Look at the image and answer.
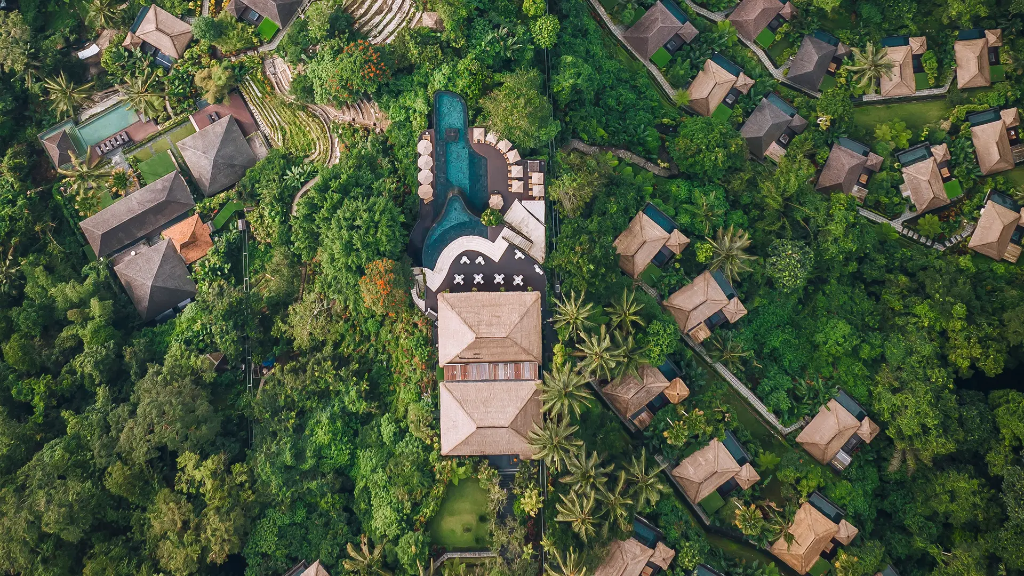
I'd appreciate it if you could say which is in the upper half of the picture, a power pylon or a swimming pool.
swimming pool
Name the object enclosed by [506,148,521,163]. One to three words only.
umbrella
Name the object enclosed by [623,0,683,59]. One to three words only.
house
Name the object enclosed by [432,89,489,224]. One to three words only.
swimming pool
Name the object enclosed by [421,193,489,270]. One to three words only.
swimming pool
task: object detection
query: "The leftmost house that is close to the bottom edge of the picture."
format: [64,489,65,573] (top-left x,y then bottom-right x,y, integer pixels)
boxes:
[593,536,655,576]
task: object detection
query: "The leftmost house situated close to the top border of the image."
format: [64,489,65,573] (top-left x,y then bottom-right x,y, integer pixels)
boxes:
[135,3,194,60]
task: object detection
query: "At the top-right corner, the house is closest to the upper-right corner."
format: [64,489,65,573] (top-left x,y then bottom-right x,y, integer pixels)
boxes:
[952,37,992,90]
